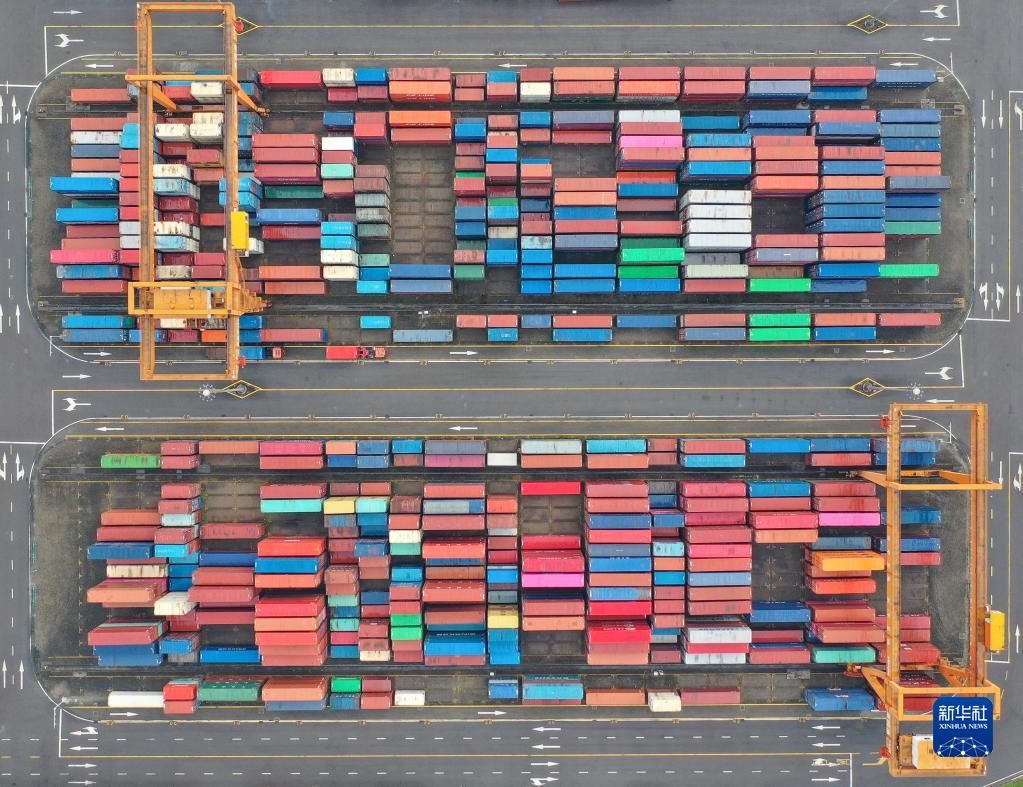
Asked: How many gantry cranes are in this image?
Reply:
2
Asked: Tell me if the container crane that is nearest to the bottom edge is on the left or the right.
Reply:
right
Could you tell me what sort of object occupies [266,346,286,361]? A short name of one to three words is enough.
vehicle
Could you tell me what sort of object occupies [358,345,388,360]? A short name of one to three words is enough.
vehicle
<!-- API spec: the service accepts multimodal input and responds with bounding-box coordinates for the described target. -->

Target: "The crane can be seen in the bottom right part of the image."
[835,402,1007,779]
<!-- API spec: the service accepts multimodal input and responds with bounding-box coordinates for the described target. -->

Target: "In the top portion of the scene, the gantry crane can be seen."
[126,2,273,382]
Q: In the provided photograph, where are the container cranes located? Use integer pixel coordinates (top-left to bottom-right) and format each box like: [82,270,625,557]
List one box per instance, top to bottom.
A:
[126,2,273,382]
[835,402,1007,779]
